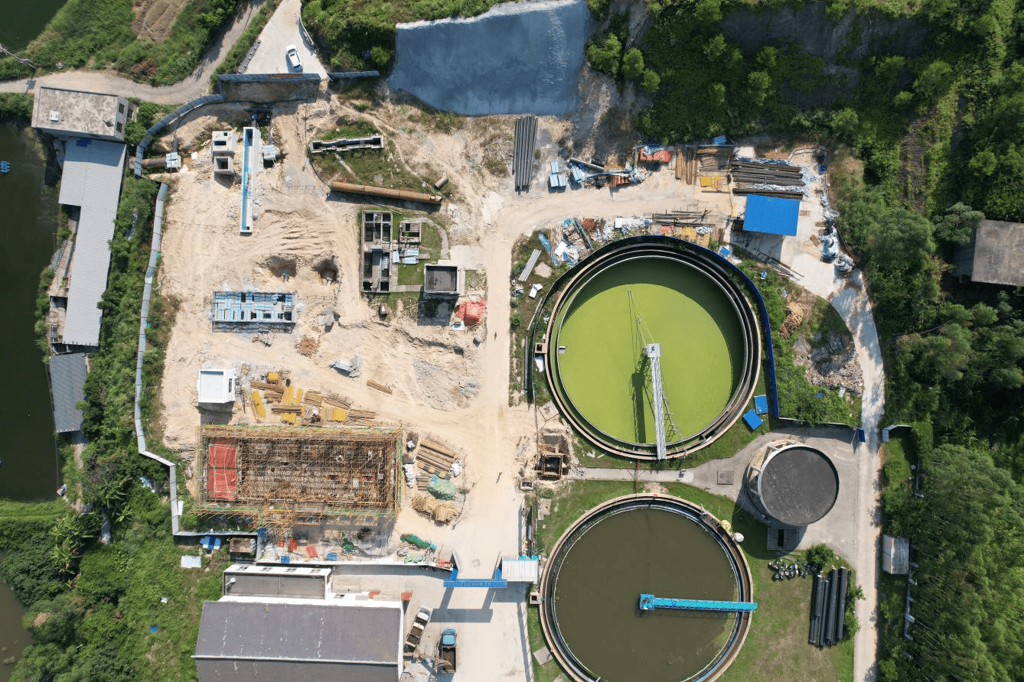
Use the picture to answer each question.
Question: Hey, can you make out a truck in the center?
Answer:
No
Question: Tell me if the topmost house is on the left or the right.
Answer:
left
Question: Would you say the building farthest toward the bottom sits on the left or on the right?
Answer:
left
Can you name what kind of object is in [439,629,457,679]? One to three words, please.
vehicle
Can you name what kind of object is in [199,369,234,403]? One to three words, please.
building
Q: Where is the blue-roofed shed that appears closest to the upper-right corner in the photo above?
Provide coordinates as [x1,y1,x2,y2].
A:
[735,194,800,240]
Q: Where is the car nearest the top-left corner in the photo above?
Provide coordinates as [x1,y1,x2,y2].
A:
[284,42,302,72]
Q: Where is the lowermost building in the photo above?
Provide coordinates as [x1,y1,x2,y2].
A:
[190,565,407,682]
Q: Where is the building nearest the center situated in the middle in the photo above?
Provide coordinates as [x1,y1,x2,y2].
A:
[424,264,461,295]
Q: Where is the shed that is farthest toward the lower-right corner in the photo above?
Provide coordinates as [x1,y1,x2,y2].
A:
[874,529,908,574]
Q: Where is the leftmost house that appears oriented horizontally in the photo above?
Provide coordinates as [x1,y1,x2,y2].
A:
[30,86,144,148]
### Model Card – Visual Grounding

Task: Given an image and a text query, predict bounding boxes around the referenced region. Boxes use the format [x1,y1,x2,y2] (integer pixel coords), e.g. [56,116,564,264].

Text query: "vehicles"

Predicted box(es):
[284,42,302,72]
[439,629,457,679]
[405,606,433,654]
